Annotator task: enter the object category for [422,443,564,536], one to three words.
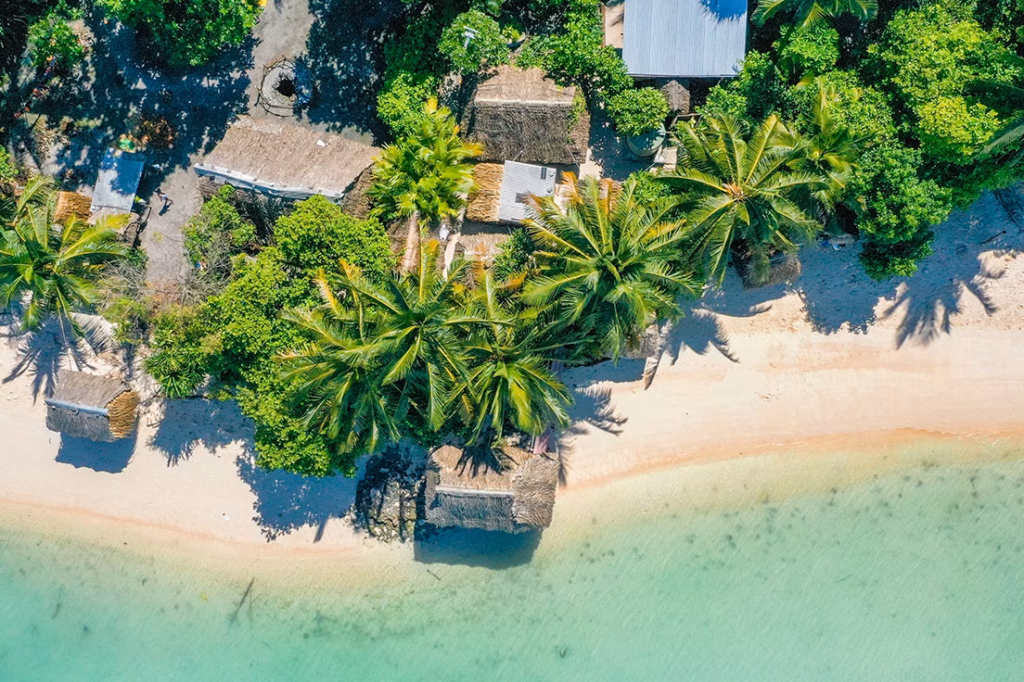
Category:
shed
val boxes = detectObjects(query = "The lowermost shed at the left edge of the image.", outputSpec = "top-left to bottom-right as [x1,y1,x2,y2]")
[42,369,145,445]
